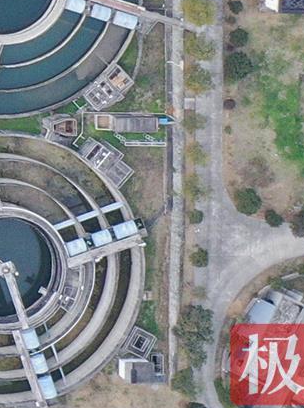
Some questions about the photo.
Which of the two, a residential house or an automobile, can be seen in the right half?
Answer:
residential house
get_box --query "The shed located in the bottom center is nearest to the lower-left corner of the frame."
[119,358,165,383]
